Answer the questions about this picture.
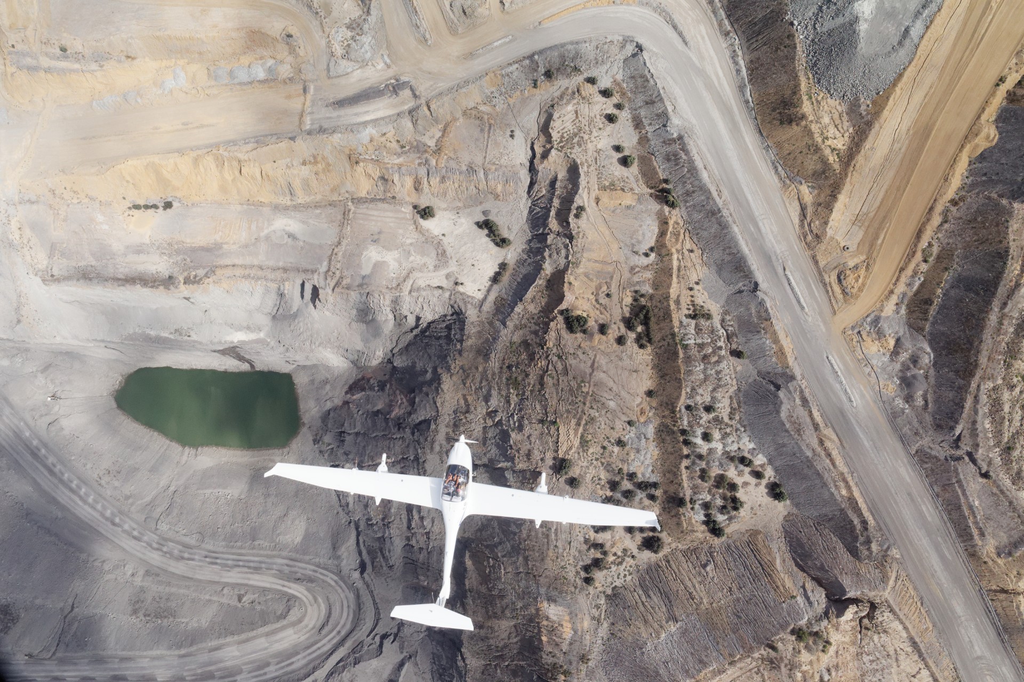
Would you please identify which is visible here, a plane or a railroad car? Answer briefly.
plane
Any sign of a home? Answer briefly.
No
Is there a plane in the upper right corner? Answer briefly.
No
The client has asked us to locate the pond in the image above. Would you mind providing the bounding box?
[116,367,300,449]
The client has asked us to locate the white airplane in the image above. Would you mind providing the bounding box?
[263,436,660,631]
